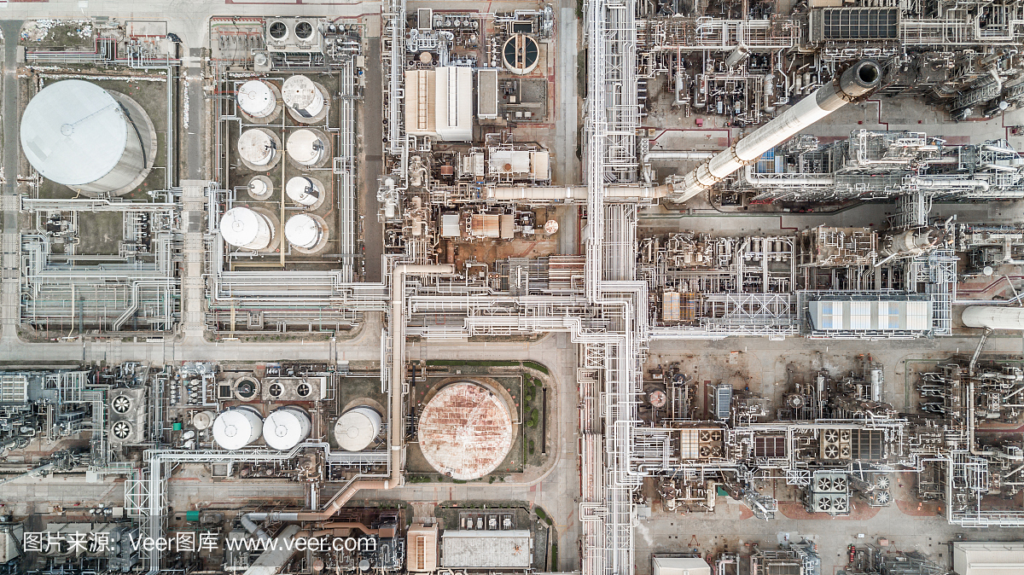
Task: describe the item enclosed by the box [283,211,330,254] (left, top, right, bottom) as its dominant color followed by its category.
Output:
white storage tank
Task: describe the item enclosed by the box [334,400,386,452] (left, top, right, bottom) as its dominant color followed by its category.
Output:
white storage tank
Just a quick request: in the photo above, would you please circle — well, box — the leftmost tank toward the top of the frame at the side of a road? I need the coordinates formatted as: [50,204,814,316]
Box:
[18,78,157,198]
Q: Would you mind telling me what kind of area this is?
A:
industrial area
